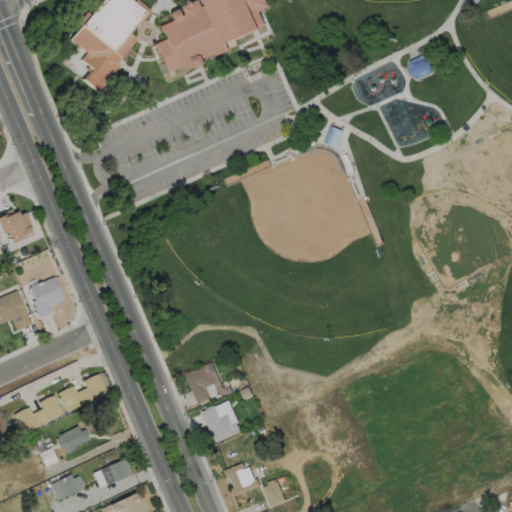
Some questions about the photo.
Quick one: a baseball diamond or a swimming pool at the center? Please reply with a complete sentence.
The one visible at the center is a baseball diamond.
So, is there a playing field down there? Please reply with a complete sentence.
Yes, there's a playing field down there.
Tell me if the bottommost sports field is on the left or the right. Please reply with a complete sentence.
The bottommost sports field appears in the right half of the scene.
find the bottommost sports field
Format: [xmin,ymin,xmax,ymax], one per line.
[346,350,500,462]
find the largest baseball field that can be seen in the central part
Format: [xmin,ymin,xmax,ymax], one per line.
[166,147,390,338]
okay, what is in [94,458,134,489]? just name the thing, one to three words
house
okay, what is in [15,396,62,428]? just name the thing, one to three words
house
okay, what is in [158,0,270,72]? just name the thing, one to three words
building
